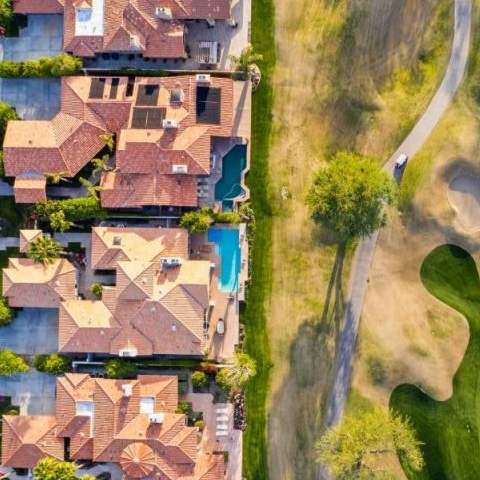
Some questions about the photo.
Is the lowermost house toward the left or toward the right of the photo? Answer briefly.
left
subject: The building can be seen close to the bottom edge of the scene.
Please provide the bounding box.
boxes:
[2,372,226,480]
